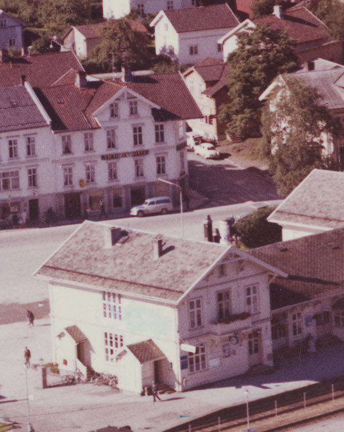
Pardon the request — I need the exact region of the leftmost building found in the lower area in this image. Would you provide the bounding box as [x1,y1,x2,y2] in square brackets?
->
[34,218,286,397]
